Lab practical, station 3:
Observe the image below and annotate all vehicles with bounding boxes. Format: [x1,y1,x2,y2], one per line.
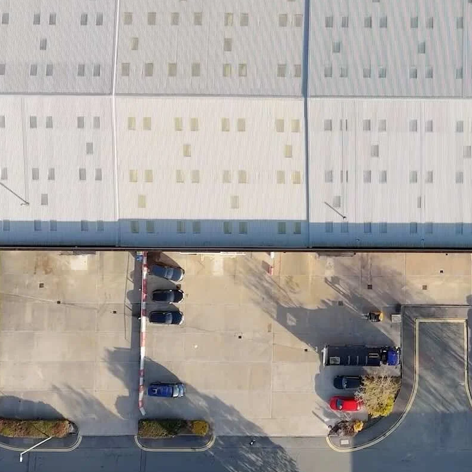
[323,346,401,369]
[146,381,185,398]
[152,288,184,304]
[149,309,184,325]
[150,263,185,281]
[359,312,383,322]
[332,397,362,411]
[334,376,369,391]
